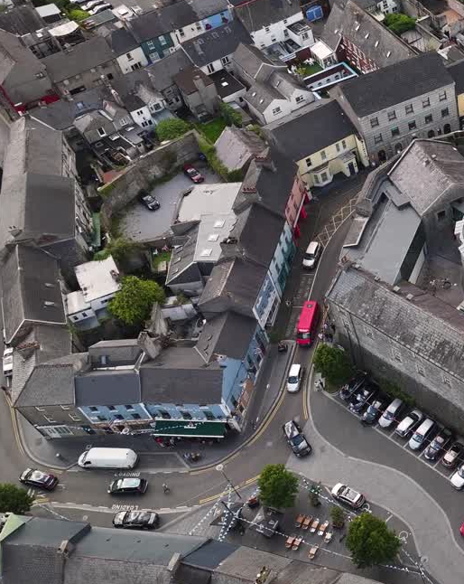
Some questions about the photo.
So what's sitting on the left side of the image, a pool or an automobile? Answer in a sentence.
You can see an automobile on the left side of the image.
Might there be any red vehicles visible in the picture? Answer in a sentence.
Yes, a red vehicle is visible in the scene.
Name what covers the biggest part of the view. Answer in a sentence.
The bulk of the photo consists of buildings.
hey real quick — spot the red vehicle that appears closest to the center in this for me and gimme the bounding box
[294,298,323,351]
